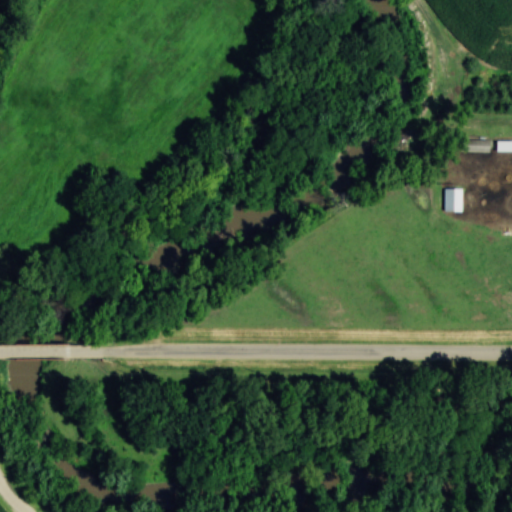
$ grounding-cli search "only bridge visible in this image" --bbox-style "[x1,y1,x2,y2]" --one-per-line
[8,344,103,360]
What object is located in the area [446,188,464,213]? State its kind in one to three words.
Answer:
shed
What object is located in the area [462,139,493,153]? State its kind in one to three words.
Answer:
barn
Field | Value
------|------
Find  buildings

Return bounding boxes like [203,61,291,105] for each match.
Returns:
[446,188,464,213]
[462,139,493,153]
[498,140,512,153]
